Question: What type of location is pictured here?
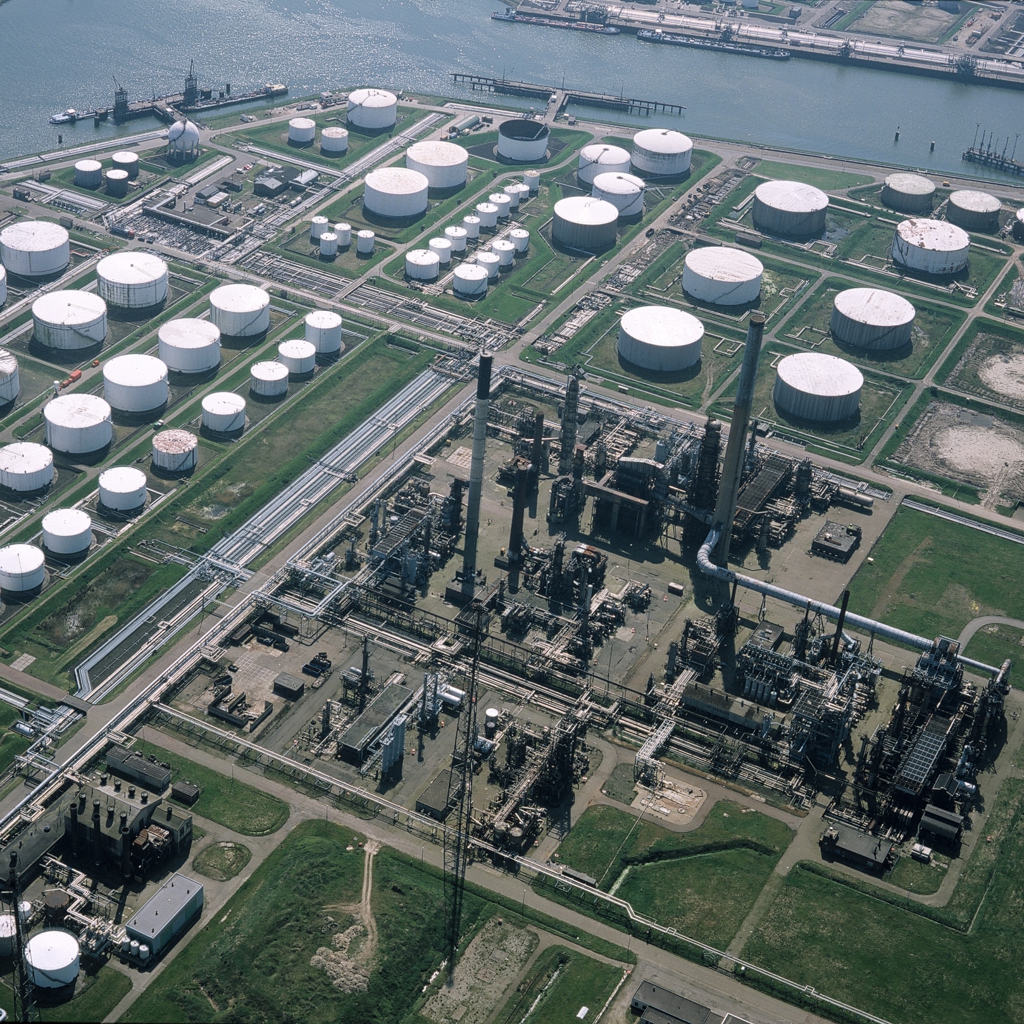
industrial area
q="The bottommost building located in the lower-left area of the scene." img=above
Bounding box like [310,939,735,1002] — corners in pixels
[124,871,205,956]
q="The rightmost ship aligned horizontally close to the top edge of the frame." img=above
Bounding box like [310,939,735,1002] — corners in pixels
[636,25,790,58]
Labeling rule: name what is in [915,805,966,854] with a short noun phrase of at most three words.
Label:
shed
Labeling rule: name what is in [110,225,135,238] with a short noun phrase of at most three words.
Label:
vehicle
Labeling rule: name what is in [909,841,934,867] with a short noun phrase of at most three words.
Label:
building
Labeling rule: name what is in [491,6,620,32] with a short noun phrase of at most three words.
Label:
ship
